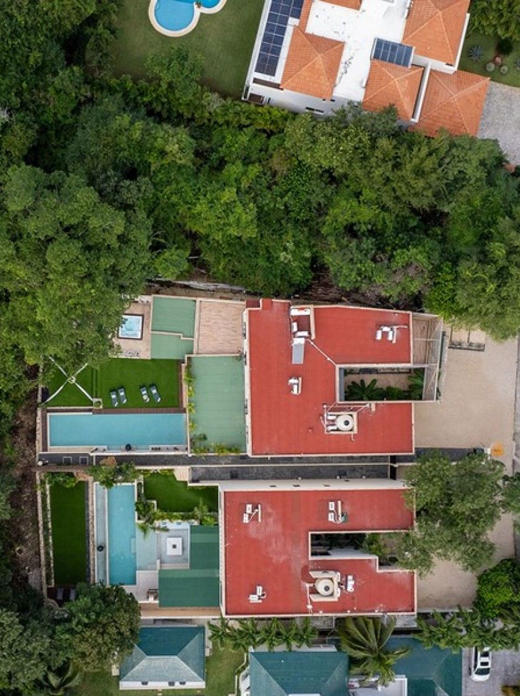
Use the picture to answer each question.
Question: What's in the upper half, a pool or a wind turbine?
pool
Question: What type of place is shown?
residential area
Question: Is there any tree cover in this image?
Yes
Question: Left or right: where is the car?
right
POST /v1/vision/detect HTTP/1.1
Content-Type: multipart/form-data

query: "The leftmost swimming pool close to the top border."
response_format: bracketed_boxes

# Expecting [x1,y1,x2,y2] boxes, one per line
[149,0,202,38]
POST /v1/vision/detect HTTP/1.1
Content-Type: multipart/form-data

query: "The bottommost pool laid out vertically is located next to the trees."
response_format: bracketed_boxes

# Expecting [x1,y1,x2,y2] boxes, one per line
[106,482,138,587]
